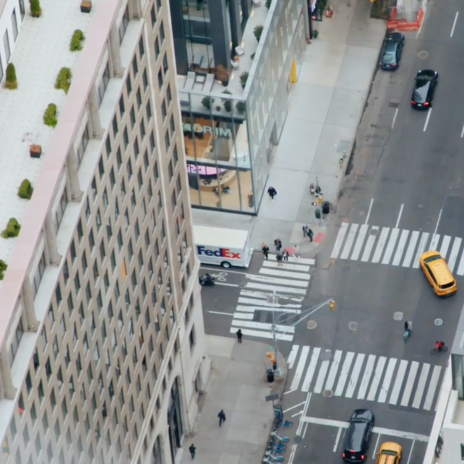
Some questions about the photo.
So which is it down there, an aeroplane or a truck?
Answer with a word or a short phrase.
truck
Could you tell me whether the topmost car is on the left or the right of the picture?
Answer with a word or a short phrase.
right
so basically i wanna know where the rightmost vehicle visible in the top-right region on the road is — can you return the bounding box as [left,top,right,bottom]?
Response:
[411,64,442,107]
